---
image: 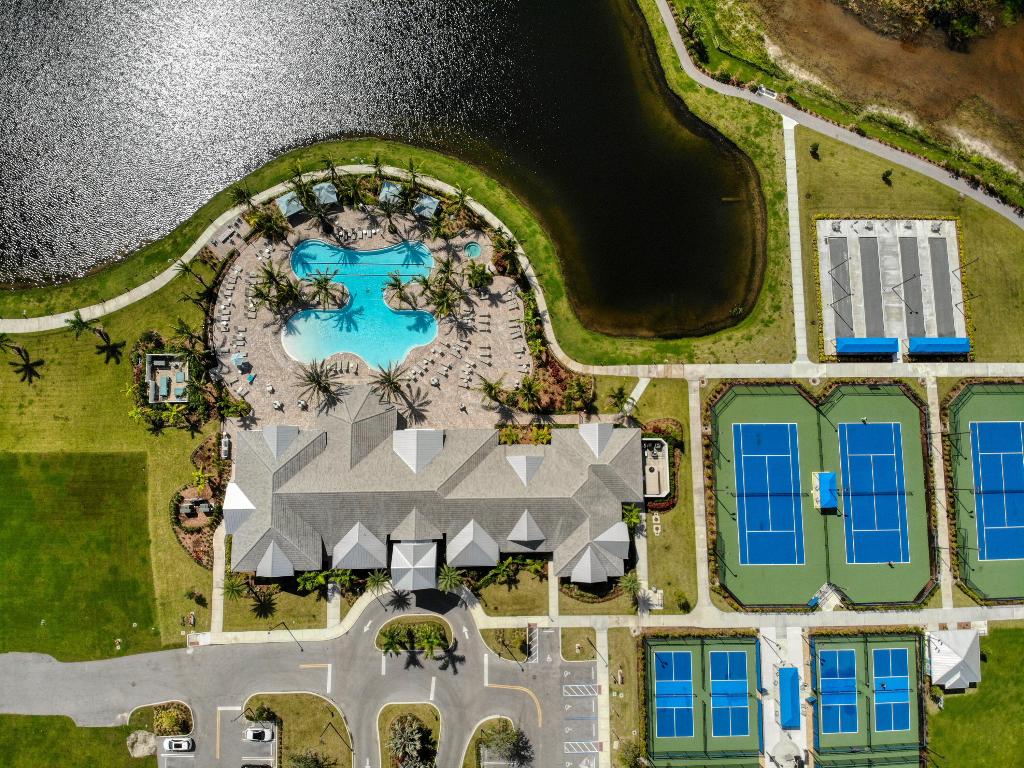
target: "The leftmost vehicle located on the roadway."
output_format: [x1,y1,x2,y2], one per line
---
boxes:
[163,739,190,754]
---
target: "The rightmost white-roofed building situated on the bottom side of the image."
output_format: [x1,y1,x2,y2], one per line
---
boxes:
[920,627,980,689]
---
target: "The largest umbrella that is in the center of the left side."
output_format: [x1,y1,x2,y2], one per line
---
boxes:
[230,352,246,366]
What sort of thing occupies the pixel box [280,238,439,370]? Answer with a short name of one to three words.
swimming pool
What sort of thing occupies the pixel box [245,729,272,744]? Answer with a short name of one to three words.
car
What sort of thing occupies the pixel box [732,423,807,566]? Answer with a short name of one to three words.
tennis court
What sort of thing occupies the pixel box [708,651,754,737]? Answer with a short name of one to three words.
sports court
